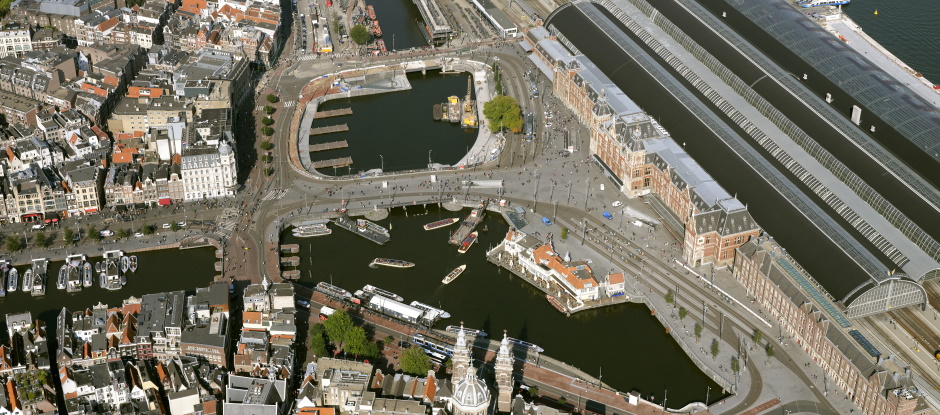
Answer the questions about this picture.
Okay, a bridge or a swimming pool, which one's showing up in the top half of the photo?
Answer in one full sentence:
What appears in the top half of the photo is a bridge.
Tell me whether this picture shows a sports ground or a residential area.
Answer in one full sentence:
This image shows a residential area.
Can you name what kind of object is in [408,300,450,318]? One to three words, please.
boat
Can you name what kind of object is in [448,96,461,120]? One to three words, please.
ship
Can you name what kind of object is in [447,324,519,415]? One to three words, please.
building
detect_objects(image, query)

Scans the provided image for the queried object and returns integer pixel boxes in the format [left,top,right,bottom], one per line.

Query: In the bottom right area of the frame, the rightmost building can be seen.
[735,241,940,415]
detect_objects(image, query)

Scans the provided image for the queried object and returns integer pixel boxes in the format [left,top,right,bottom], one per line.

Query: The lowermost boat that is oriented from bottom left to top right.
[441,264,466,283]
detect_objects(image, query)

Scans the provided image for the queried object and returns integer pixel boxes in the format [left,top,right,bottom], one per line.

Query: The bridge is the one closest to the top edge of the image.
[386,45,456,77]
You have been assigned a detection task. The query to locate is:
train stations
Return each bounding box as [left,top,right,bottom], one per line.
[497,15,761,267]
